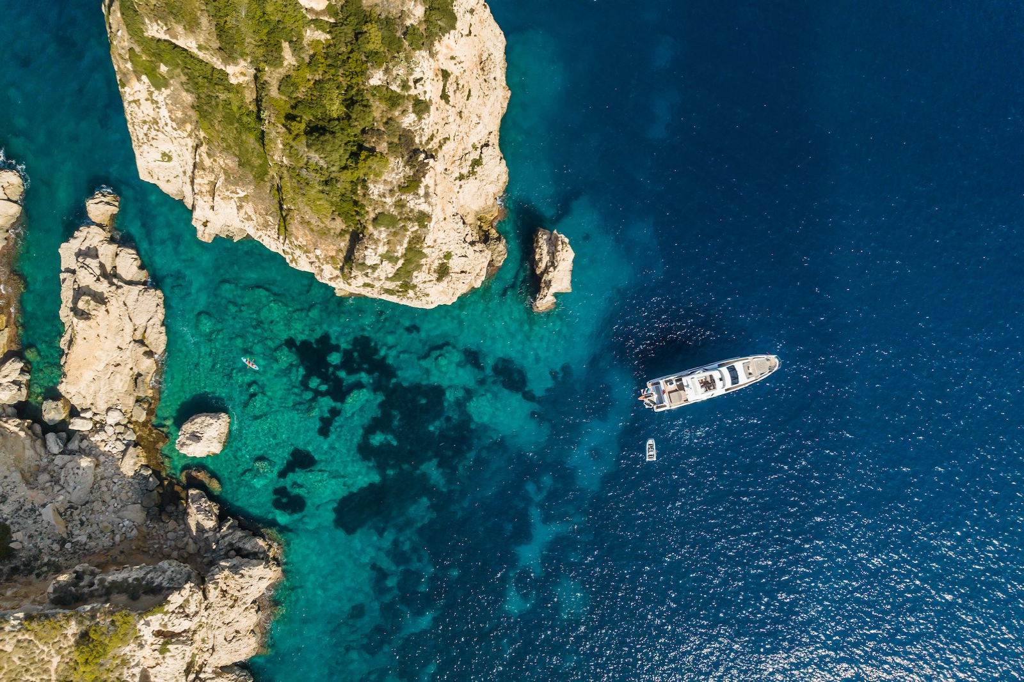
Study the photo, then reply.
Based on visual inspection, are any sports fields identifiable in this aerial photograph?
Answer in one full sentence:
No, this view has no sports field in it.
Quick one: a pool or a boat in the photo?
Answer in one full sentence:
Looking from above, you can make out a boat.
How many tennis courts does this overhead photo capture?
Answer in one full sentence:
No tennis courts are visible.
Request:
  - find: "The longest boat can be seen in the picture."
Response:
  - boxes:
[639,355,782,409]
